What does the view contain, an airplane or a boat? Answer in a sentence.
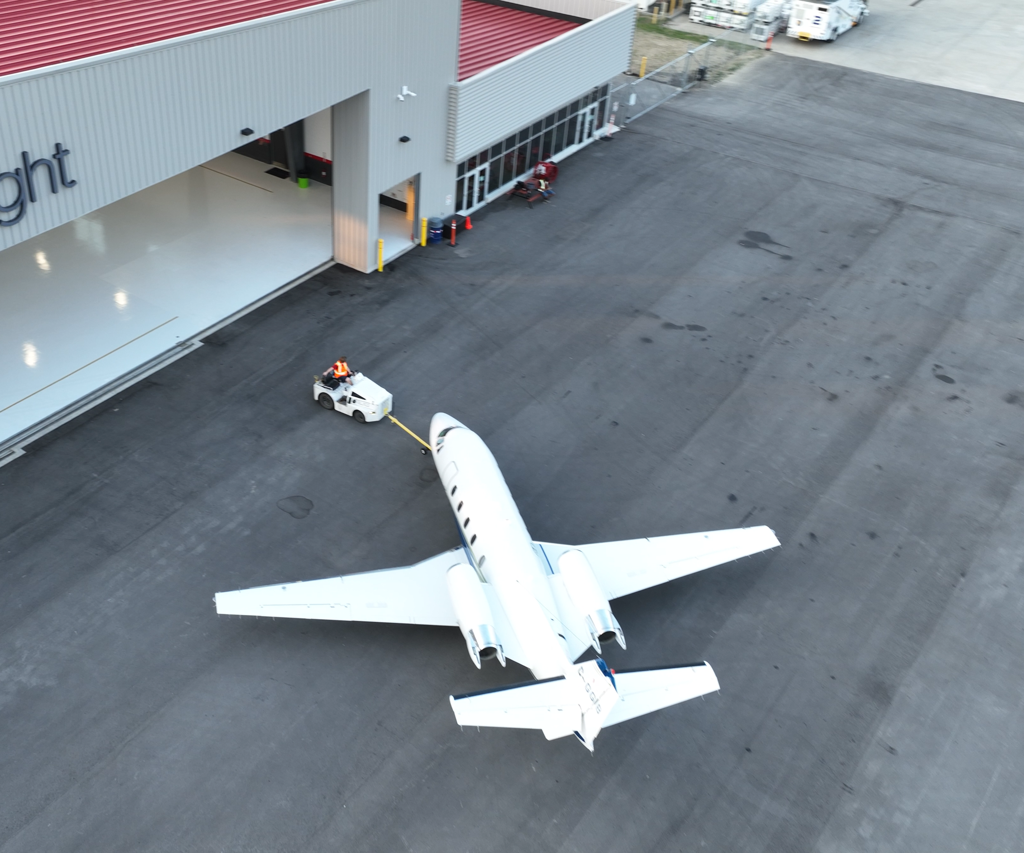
It is an airplane that can be seen here.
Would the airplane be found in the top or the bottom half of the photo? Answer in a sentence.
The bottom half of the photo is where the airplane is.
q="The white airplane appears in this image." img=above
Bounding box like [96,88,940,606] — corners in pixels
[213,412,779,757]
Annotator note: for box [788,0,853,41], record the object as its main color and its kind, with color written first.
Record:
white truck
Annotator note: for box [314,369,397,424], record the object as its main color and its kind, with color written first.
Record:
white work vehicle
